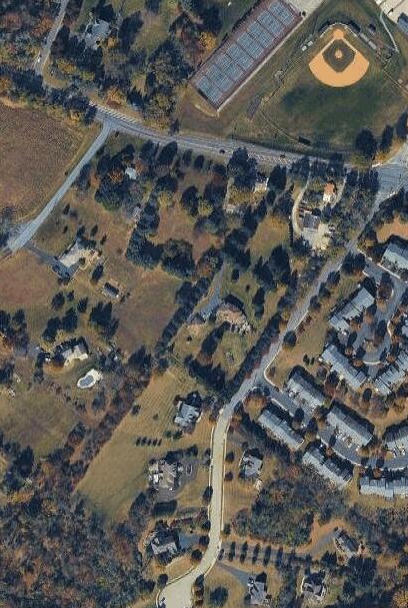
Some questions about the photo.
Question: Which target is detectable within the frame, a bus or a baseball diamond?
baseball diamond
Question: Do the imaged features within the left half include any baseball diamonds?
No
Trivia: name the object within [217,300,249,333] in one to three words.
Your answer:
house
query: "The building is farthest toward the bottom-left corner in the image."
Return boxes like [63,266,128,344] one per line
[149,533,183,559]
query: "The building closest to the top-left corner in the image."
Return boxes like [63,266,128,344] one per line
[84,18,111,45]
